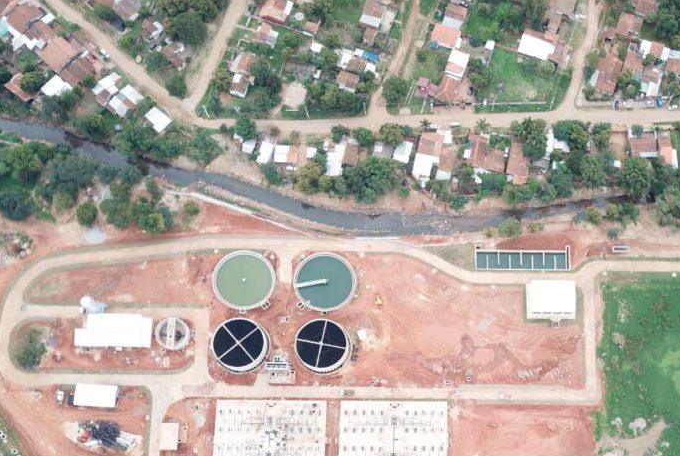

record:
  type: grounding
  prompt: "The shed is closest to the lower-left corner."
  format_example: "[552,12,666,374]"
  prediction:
[67,383,123,408]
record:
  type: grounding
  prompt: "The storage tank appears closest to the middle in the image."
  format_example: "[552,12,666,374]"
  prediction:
[292,252,358,316]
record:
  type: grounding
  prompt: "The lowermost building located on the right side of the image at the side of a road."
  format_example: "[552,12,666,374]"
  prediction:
[522,279,582,328]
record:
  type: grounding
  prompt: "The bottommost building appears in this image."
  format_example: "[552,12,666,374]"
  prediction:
[159,423,187,450]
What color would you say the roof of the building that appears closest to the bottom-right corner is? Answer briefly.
white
